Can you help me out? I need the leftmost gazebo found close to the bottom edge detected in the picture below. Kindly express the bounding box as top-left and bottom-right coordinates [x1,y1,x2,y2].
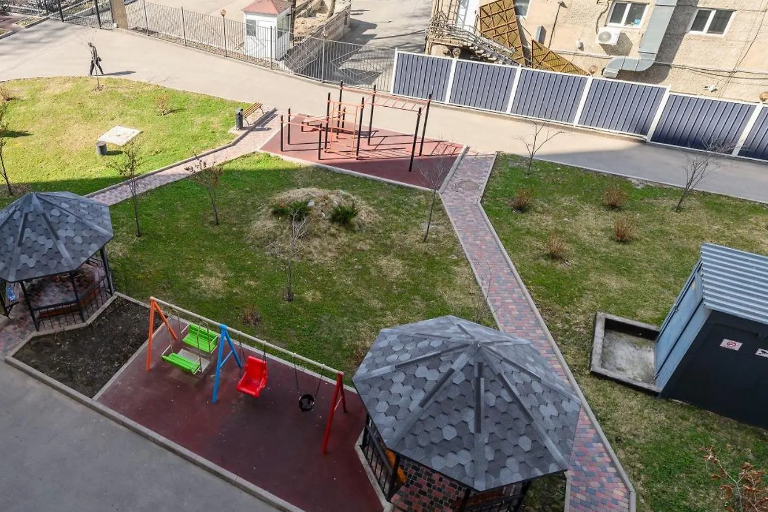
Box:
[352,315,581,512]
